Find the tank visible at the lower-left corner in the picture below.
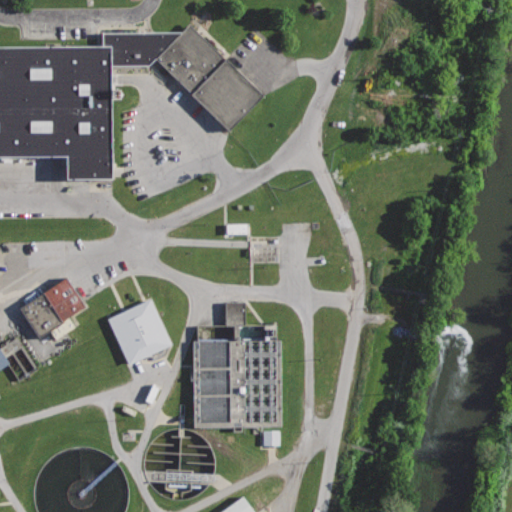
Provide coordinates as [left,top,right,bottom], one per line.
[34,447,130,512]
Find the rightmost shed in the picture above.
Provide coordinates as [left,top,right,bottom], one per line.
[263,430,282,448]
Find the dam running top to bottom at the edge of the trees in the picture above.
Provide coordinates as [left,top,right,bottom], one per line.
[424,322,475,446]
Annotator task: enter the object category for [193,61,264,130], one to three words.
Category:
building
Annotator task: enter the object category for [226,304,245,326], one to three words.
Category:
building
